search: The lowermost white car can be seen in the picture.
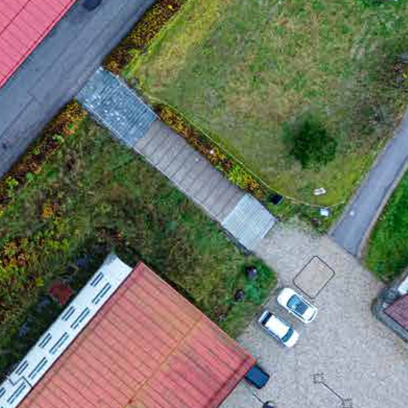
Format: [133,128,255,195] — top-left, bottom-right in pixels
[261,313,302,348]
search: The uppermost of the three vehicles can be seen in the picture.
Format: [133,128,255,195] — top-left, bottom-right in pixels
[280,290,321,326]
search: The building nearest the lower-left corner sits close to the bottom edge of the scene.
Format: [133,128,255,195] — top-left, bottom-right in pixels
[0,250,255,408]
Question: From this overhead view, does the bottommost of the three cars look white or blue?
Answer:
blue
